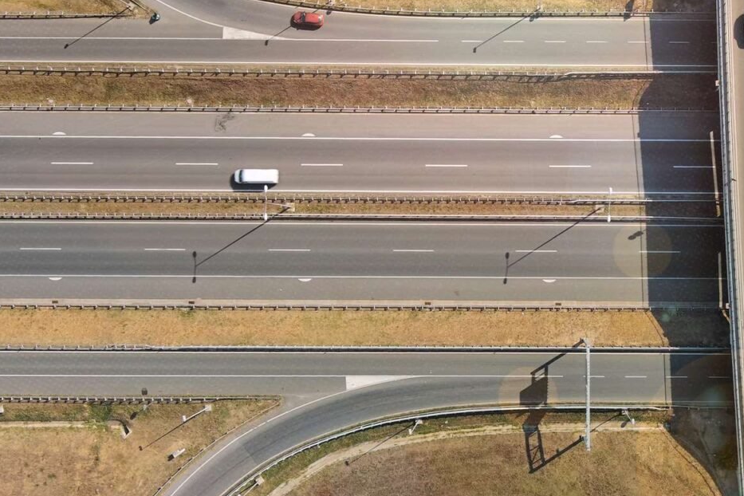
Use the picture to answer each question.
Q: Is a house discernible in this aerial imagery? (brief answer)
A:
No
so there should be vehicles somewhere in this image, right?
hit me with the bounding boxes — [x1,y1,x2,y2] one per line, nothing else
[292,12,325,27]
[234,169,279,186]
